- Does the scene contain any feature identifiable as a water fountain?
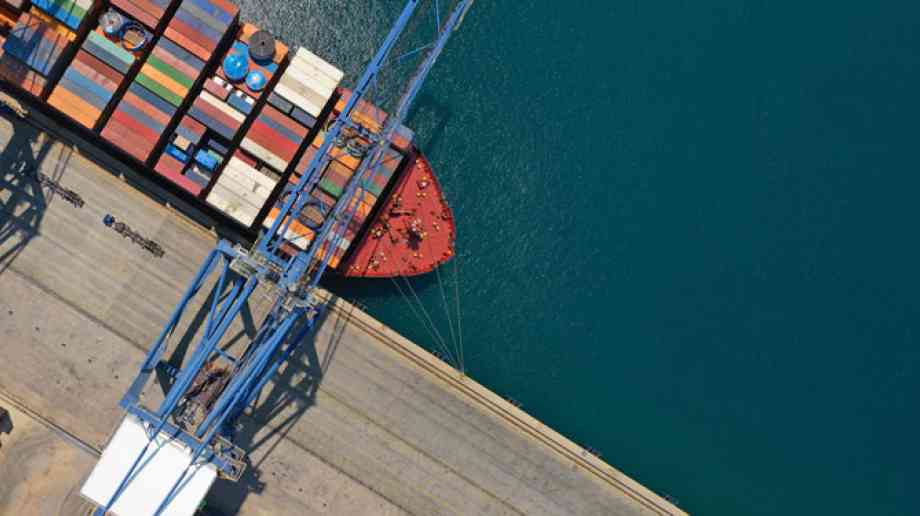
No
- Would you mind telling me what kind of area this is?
port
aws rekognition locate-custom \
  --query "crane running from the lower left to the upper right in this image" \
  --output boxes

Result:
[79,0,475,516]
